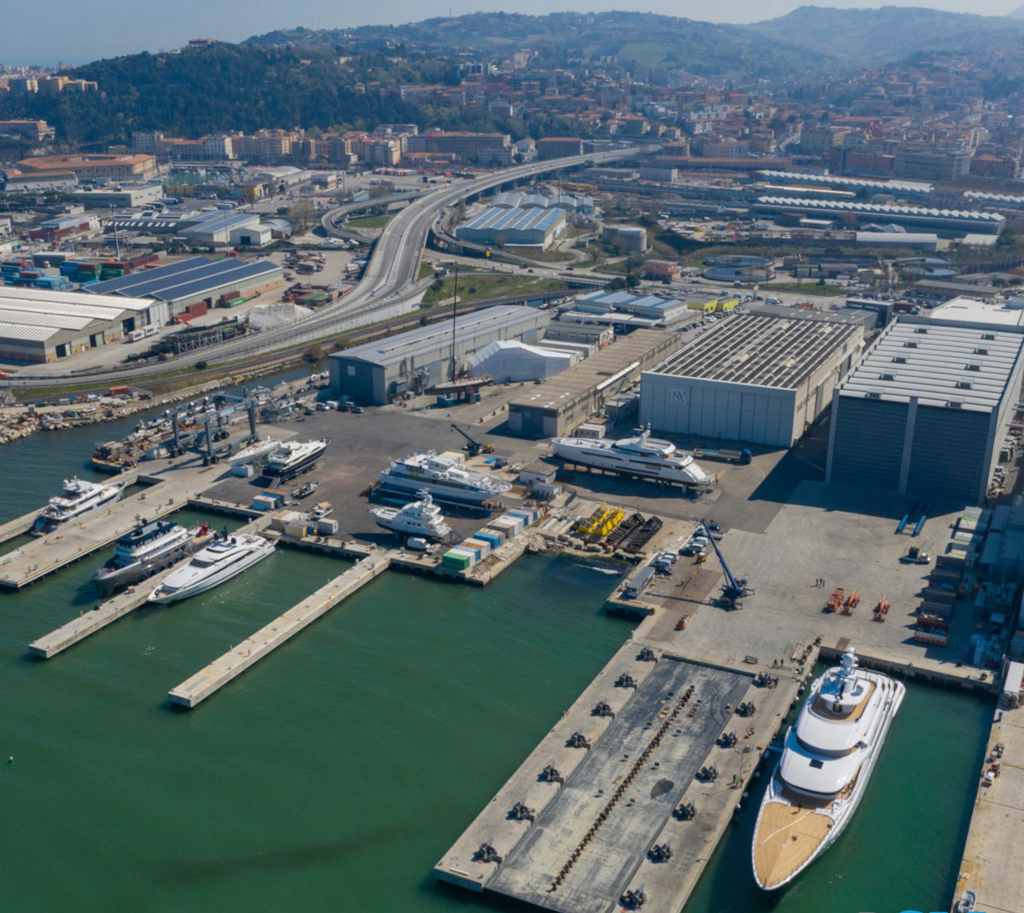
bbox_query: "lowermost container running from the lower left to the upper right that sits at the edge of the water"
[616,562,657,604]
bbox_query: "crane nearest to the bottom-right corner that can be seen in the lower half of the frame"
[701,519,749,614]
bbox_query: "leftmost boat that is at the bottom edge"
[756,640,902,899]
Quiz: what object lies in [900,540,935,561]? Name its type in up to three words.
truck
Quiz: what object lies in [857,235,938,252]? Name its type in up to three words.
shed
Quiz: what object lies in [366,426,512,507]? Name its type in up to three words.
ship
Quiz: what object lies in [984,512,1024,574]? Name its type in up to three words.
building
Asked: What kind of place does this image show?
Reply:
port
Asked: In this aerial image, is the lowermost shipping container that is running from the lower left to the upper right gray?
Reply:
Yes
